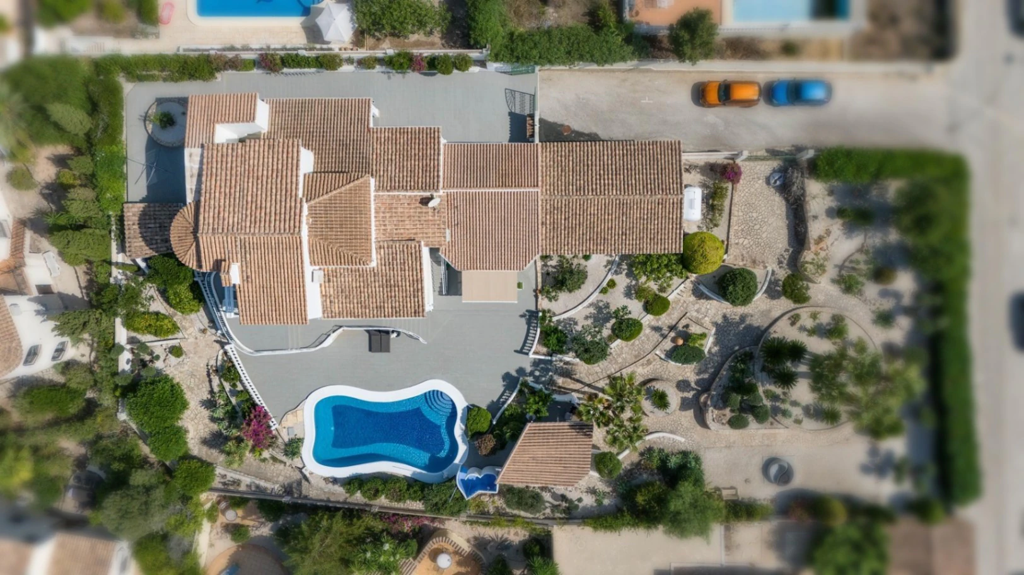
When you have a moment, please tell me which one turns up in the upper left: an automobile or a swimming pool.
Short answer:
swimming pool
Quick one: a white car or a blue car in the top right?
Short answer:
blue car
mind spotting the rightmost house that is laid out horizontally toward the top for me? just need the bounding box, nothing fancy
[122,91,684,327]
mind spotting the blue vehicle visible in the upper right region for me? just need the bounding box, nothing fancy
[770,74,832,105]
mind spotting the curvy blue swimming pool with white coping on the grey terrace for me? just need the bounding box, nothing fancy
[301,379,468,482]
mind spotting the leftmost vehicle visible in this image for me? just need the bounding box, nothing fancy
[700,74,760,106]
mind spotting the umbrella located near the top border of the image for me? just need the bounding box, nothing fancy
[315,1,357,42]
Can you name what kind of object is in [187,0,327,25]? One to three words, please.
swimming pool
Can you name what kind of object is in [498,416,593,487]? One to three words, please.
building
